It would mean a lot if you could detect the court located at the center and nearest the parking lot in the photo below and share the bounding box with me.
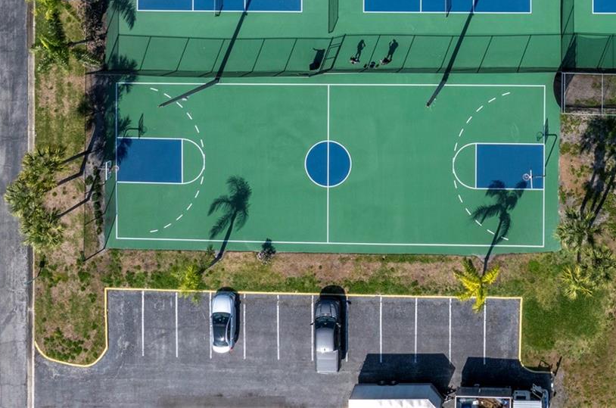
[104,69,560,253]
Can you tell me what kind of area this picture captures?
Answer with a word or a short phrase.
sports ground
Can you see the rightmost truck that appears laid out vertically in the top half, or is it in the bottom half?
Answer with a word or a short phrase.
bottom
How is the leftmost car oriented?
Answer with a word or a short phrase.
from top to bottom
